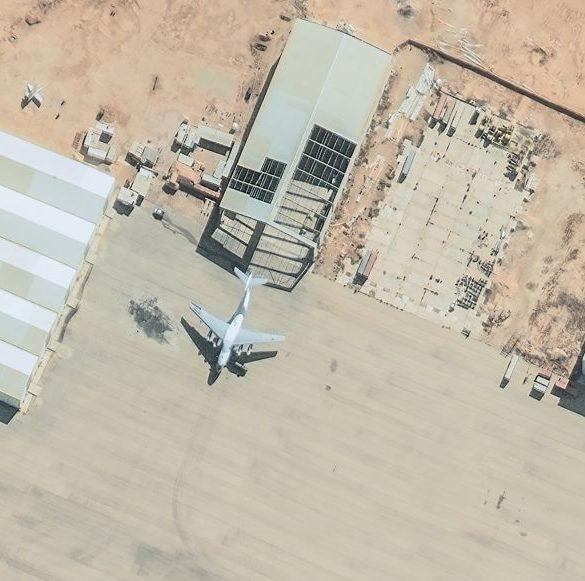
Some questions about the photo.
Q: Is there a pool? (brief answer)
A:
No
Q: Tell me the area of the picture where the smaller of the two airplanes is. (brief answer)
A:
top left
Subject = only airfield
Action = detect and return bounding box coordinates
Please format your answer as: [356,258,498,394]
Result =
[0,205,585,581]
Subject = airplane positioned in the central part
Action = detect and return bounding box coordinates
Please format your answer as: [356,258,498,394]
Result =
[189,267,283,374]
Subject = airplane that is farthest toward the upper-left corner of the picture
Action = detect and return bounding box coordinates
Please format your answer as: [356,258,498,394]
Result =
[21,84,47,105]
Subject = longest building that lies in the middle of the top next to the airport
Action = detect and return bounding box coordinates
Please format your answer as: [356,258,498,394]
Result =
[212,19,393,266]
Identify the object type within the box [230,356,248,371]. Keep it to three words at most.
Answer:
vehicle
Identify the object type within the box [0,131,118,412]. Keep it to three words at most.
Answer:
warehouse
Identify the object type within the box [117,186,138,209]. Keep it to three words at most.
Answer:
building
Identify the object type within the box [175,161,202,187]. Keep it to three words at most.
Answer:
building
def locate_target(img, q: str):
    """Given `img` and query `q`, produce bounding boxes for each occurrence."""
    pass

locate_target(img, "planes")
[21,84,47,105]
[189,267,283,374]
